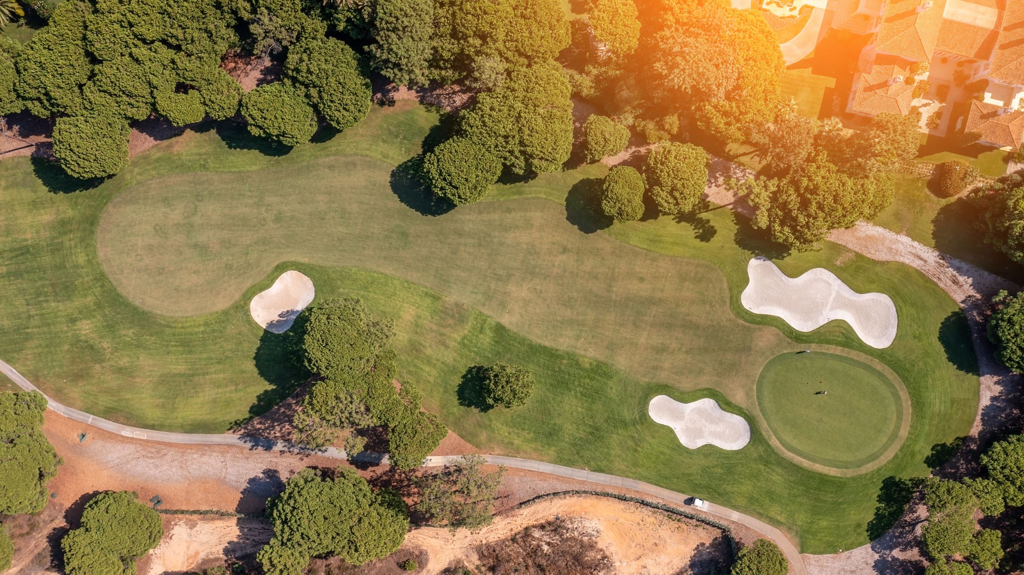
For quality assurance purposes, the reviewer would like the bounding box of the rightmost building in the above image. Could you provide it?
[933,0,1024,148]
